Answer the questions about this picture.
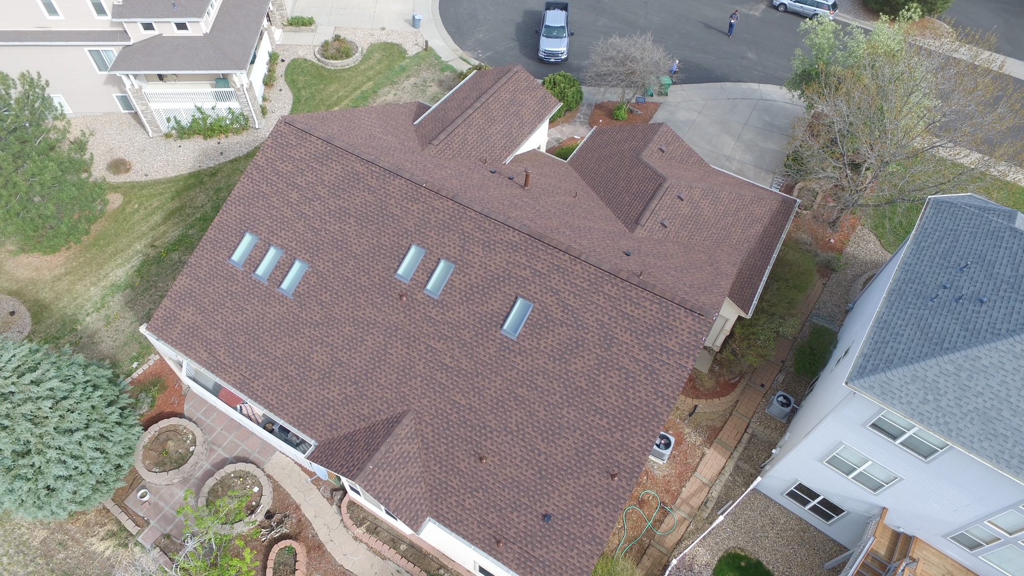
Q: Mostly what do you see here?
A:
buildings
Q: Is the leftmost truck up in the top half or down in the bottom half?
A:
top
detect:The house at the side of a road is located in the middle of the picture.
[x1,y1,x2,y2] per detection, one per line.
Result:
[142,63,801,576]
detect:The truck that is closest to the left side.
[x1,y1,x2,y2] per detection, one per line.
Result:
[535,0,577,59]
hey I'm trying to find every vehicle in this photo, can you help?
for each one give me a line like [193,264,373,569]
[535,0,577,59]
[772,0,838,21]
